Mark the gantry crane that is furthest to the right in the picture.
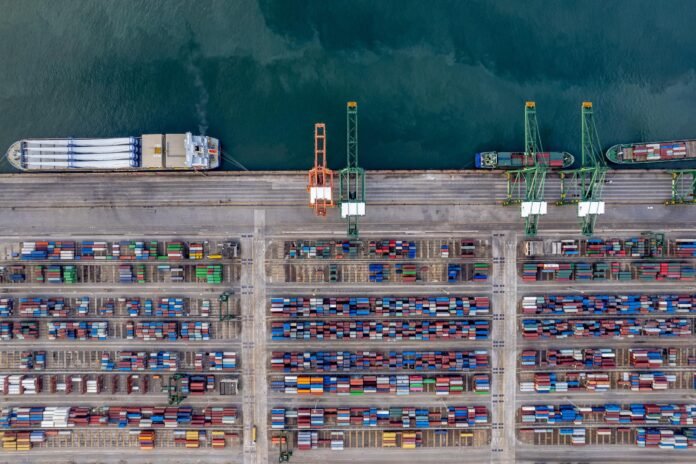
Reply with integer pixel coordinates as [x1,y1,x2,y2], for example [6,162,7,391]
[661,168,696,217]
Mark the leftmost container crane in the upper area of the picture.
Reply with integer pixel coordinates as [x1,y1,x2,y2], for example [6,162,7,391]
[304,124,335,216]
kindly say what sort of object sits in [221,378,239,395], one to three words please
shed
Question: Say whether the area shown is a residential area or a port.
port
